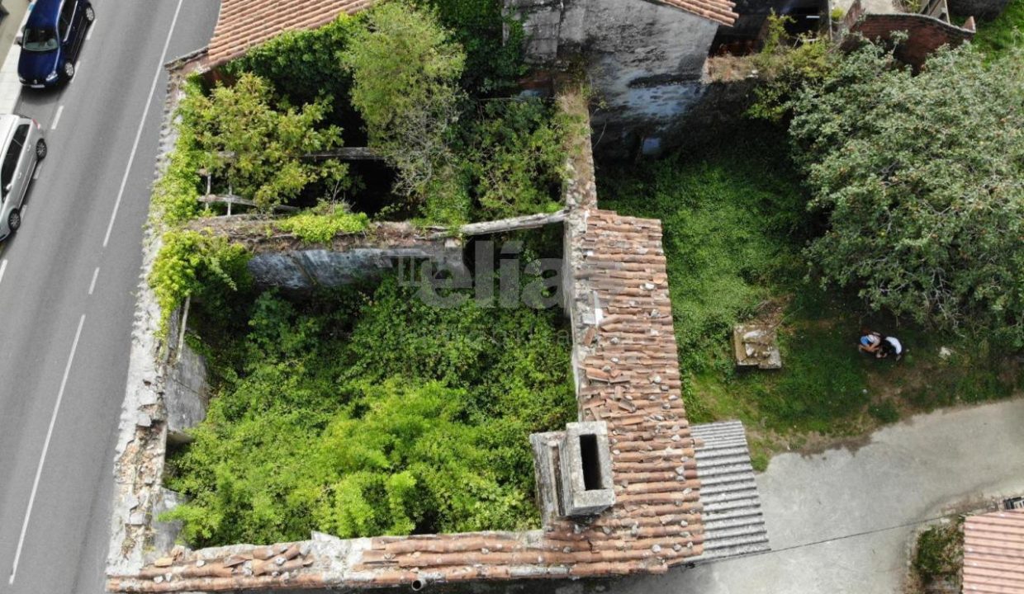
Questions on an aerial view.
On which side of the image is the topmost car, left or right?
left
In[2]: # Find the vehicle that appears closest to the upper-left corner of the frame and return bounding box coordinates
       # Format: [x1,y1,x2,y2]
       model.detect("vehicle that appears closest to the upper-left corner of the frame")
[9,0,93,89]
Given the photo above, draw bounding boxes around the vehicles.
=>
[0,109,48,243]
[9,0,93,89]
